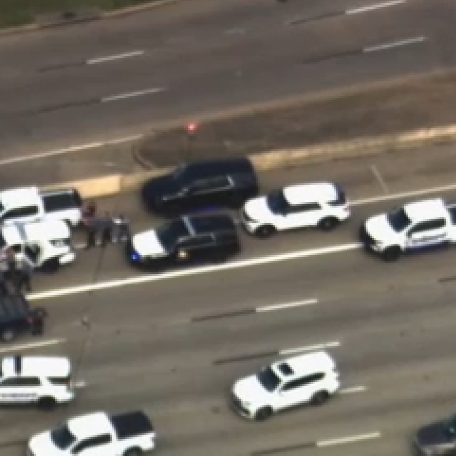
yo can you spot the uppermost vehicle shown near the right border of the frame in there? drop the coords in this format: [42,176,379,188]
[359,200,456,263]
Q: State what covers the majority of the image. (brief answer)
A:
paved ground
